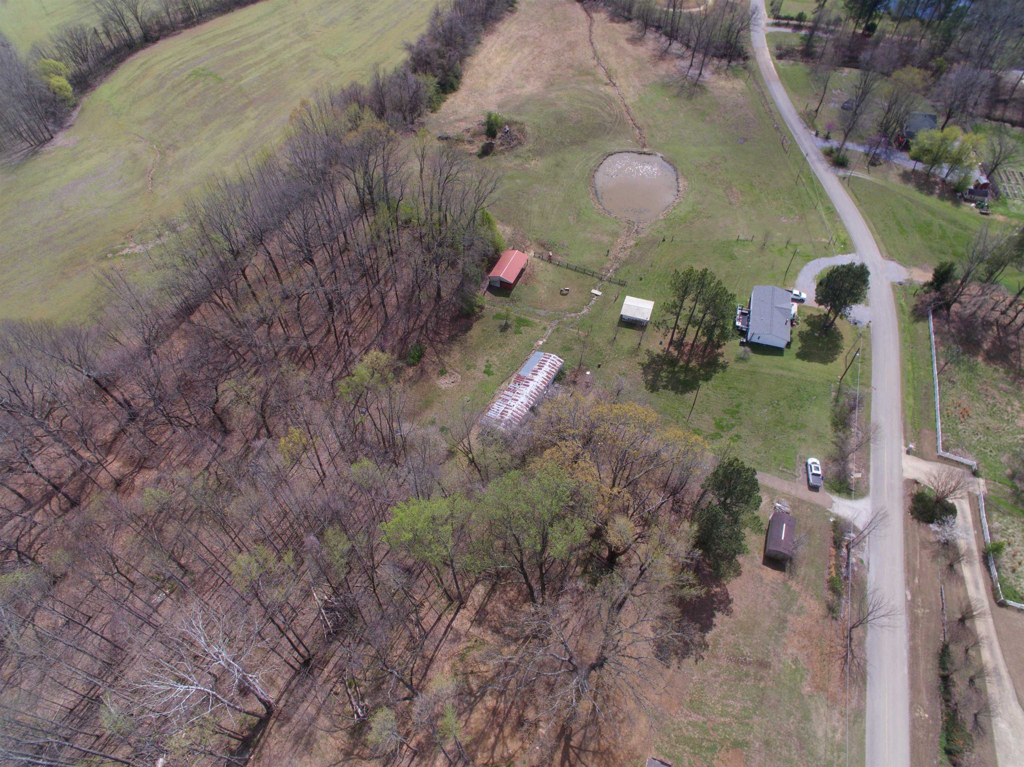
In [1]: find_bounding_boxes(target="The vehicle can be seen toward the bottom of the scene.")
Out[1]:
[804,457,823,486]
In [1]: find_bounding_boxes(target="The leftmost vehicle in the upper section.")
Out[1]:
[791,290,809,302]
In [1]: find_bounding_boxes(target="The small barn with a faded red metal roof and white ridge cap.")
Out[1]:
[489,249,529,292]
